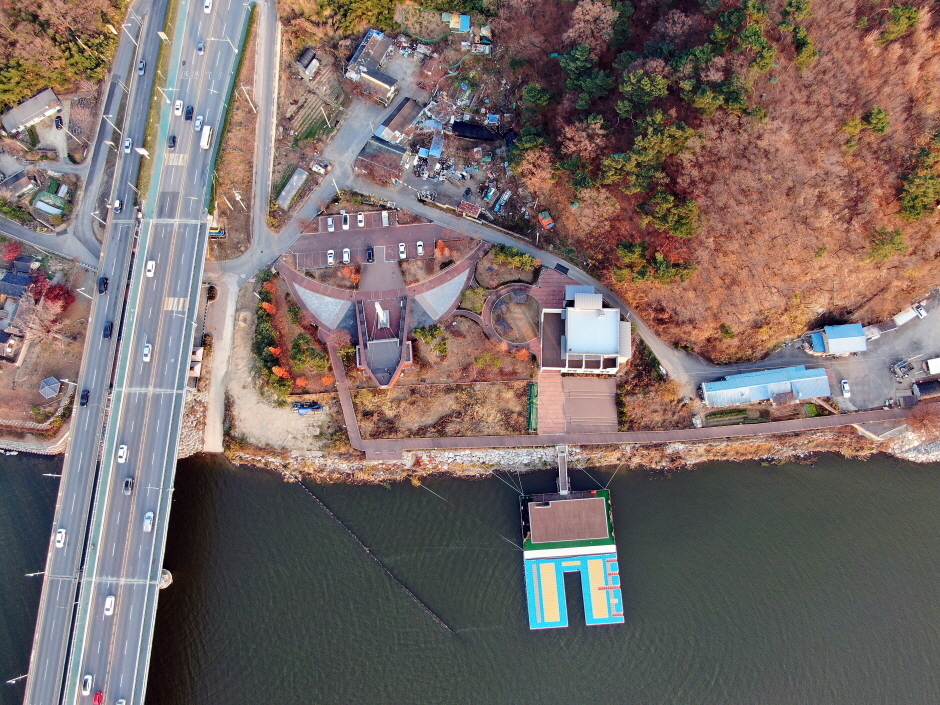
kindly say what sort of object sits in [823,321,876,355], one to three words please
house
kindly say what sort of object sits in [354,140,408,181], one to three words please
building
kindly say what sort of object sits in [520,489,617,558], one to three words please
pier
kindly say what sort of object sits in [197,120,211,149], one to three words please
vehicle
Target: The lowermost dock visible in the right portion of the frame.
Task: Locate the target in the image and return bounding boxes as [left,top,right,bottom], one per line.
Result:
[525,554,624,630]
